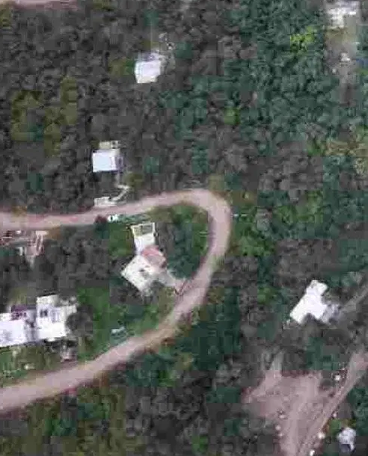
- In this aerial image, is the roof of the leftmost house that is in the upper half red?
No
